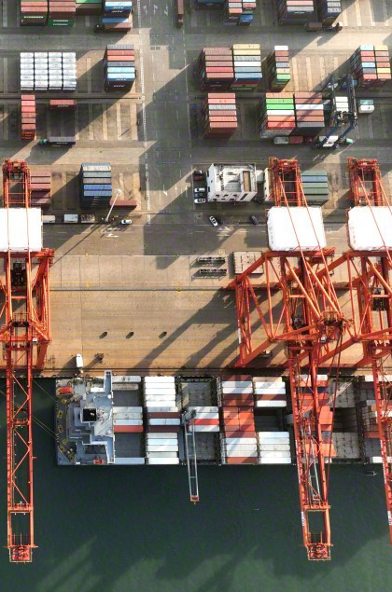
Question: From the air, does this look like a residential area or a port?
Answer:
port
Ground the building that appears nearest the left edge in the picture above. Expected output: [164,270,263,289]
[206,156,257,200]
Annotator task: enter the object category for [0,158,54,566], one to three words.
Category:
container crane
